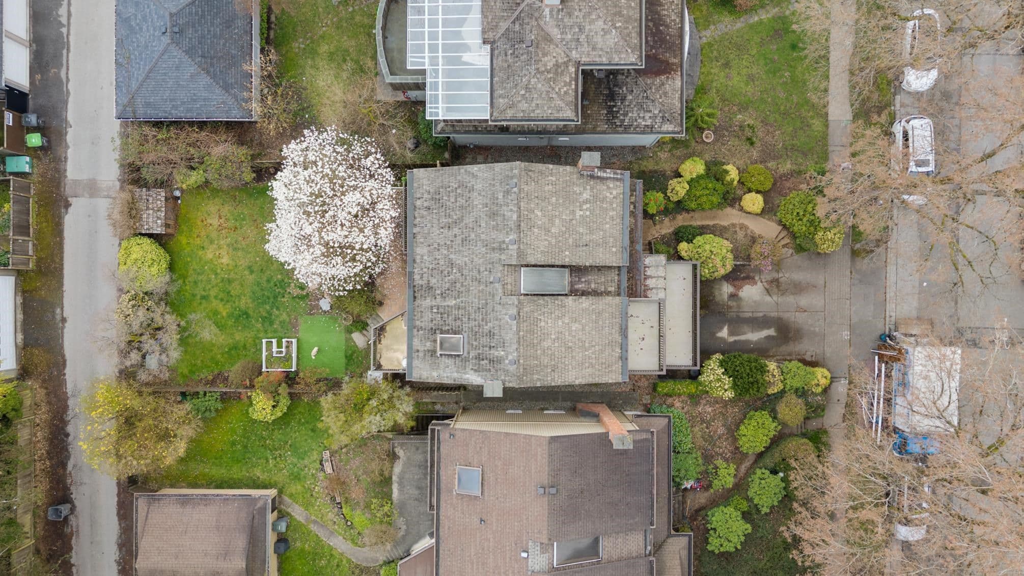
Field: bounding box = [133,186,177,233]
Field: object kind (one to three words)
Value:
shed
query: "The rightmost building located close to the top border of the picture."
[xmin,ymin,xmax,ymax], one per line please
[432,0,689,148]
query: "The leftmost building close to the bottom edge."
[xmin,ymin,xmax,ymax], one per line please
[133,489,278,576]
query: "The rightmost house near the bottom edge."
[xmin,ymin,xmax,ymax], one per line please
[434,403,692,576]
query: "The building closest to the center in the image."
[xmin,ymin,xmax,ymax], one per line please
[406,151,643,397]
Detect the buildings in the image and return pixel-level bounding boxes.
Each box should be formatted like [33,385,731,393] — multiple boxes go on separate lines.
[0,0,30,91]
[432,0,689,148]
[133,489,278,576]
[133,186,177,233]
[406,151,643,397]
[113,0,267,127]
[434,403,692,576]
[0,270,18,381]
